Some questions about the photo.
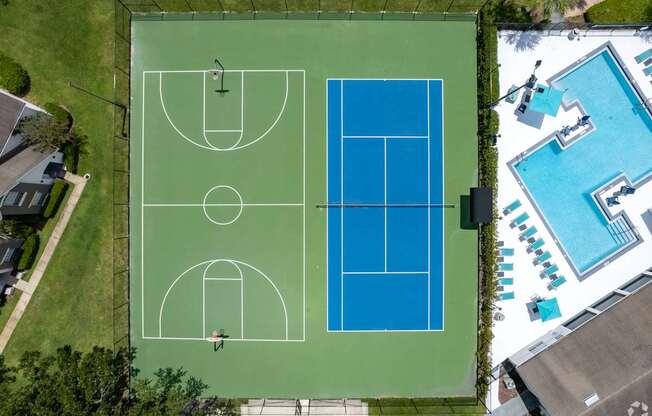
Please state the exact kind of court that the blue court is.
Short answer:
tennis court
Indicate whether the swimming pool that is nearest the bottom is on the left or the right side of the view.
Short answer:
right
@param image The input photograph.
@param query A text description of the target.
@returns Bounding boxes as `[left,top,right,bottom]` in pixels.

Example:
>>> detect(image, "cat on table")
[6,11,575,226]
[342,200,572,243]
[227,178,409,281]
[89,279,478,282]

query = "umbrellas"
[533,297,562,322]
[528,83,562,117]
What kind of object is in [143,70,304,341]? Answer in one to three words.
basketball court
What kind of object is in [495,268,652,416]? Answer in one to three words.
building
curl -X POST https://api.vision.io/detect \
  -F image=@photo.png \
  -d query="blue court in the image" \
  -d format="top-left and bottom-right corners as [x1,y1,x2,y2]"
[327,78,443,331]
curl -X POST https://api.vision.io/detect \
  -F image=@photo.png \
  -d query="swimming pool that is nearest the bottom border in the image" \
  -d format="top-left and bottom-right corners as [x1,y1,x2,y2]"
[505,39,652,280]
